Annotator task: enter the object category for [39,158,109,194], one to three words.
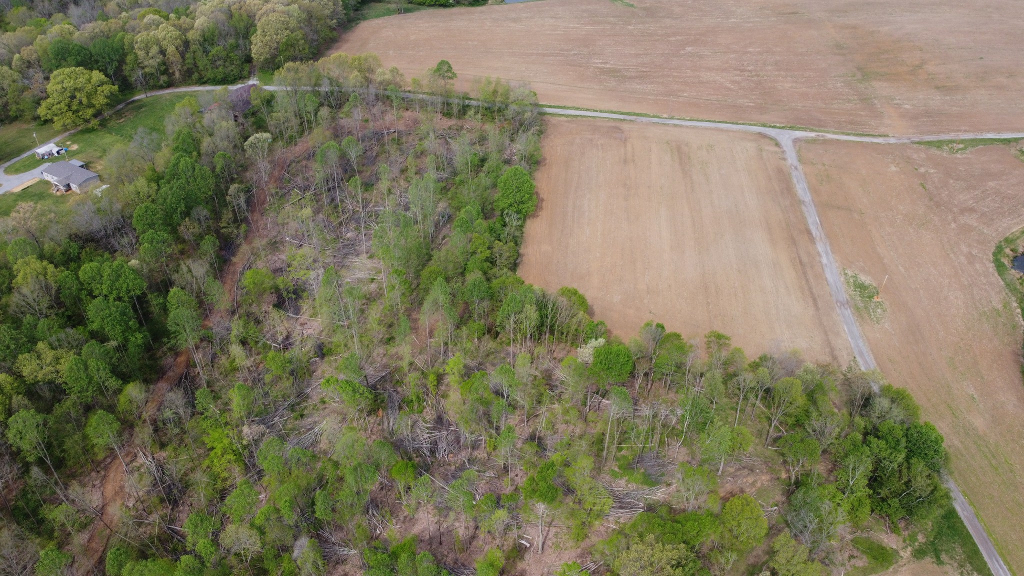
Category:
house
